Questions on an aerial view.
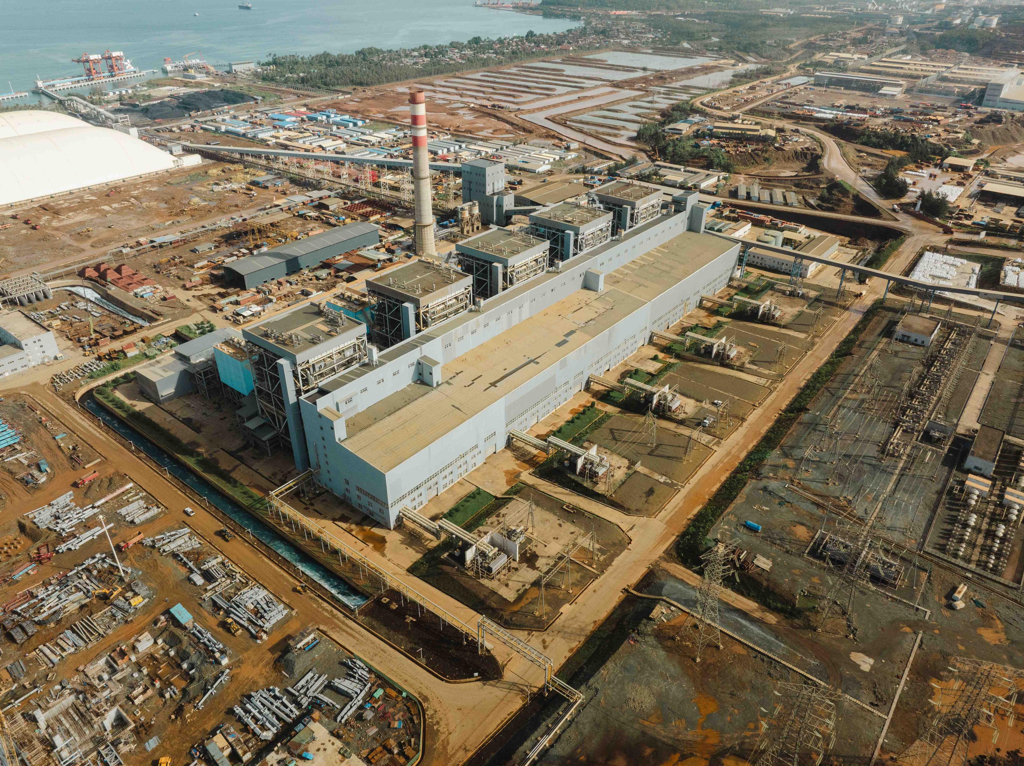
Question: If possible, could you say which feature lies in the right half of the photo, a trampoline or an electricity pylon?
electricity pylon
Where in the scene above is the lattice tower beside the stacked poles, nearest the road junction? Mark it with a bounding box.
[679,526,727,662]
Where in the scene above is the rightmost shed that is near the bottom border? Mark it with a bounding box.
[288,726,316,758]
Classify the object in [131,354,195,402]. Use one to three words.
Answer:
shed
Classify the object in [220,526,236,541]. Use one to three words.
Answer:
work vehicle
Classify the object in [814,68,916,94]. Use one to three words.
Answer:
building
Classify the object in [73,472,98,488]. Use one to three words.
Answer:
vehicle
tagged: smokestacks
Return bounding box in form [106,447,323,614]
[408,90,435,257]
